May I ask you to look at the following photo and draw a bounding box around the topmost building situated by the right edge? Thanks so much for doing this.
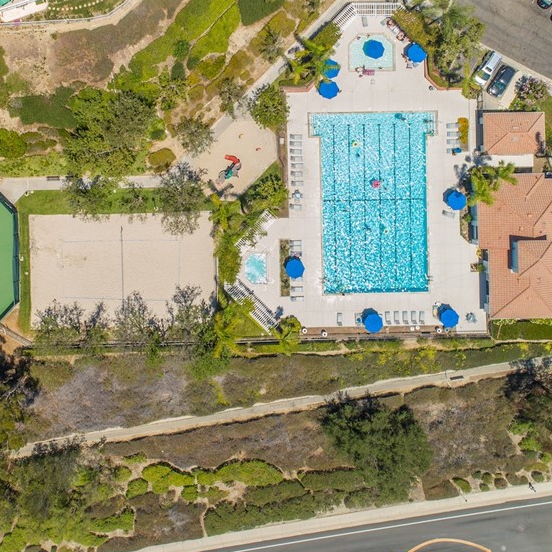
[477,111,545,156]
